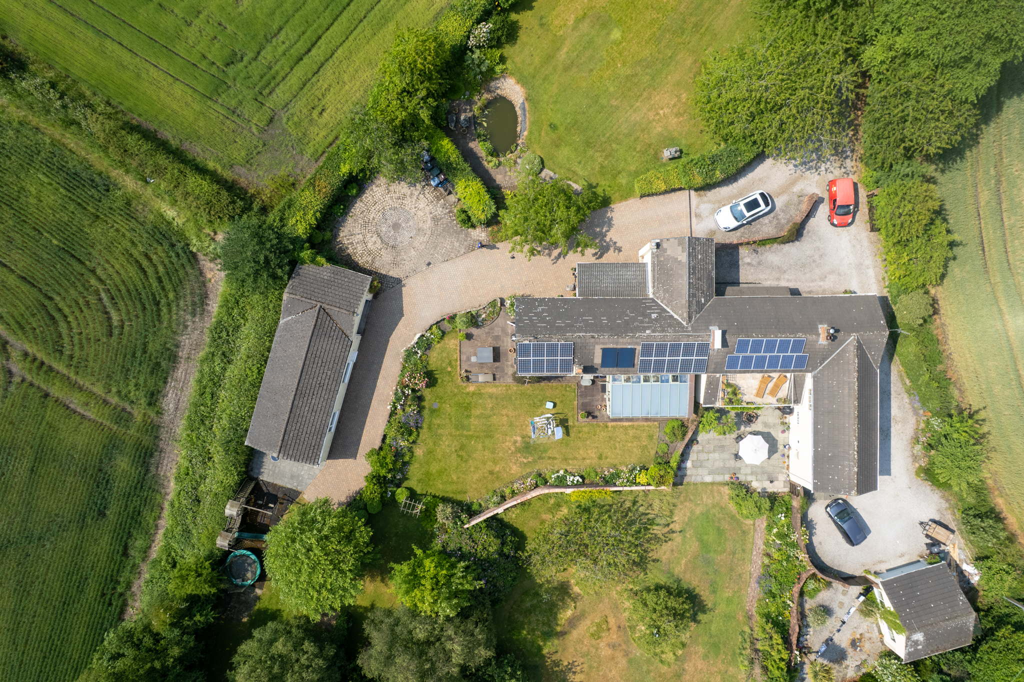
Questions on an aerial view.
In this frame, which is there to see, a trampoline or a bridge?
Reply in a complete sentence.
Looking from above, you can make out a trampoline.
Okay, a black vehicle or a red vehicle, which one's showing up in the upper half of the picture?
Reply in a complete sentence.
What appears in the upper half of the picture is a red vehicle.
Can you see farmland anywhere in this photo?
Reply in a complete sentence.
Yes, there's farmland in this view.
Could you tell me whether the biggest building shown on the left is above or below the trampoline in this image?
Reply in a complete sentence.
The biggest building shown on the left appears above the trampoline in the picture.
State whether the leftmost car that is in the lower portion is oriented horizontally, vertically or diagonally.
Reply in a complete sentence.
In this picture, the leftmost car that is in the lower portion lies diagonally.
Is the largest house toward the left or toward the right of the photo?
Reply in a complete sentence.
You can find the largest house on the right side of the picture.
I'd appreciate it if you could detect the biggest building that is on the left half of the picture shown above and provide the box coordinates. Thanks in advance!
[245,263,375,466]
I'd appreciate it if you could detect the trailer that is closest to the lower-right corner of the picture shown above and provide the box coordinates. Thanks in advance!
[913,516,960,550]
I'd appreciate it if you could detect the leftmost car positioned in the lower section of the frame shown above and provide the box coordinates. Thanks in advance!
[822,494,870,548]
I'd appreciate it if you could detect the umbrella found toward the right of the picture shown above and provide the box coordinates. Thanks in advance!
[737,433,768,463]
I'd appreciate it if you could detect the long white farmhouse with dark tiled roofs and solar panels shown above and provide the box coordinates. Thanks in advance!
[503,235,927,496]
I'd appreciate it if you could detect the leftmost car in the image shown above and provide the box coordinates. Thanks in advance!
[713,189,773,234]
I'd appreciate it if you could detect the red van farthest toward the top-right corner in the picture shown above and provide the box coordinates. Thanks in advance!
[825,175,858,231]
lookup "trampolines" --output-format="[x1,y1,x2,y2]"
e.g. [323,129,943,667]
[220,549,262,595]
